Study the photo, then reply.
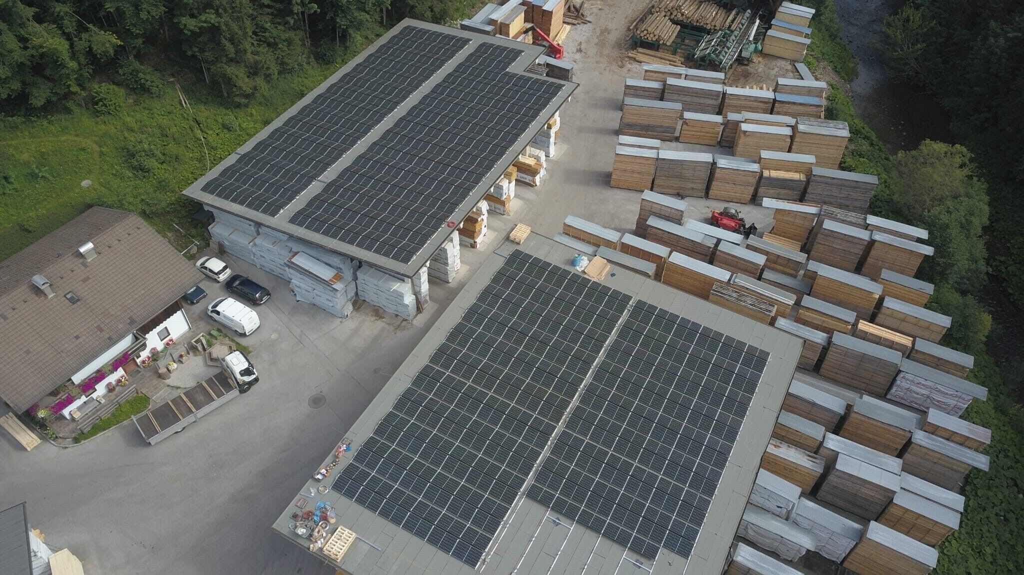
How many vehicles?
7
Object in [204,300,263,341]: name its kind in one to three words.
van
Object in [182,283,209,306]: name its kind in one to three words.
car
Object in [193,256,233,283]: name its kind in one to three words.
car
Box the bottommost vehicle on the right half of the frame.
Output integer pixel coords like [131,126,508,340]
[705,199,758,243]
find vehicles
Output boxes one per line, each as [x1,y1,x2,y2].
[193,256,233,283]
[221,275,273,307]
[204,300,263,341]
[705,199,758,243]
[134,354,265,441]
[519,24,563,65]
[182,283,209,306]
